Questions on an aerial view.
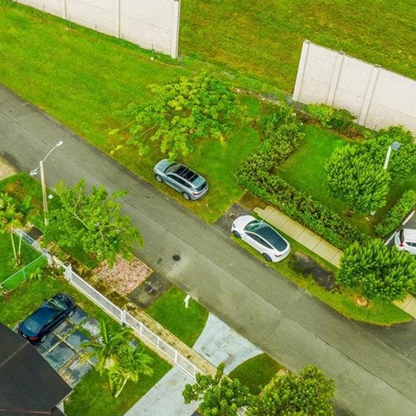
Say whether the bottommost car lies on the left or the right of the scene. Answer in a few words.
left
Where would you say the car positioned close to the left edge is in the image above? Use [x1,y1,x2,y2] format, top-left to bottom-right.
[8,288,83,344]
